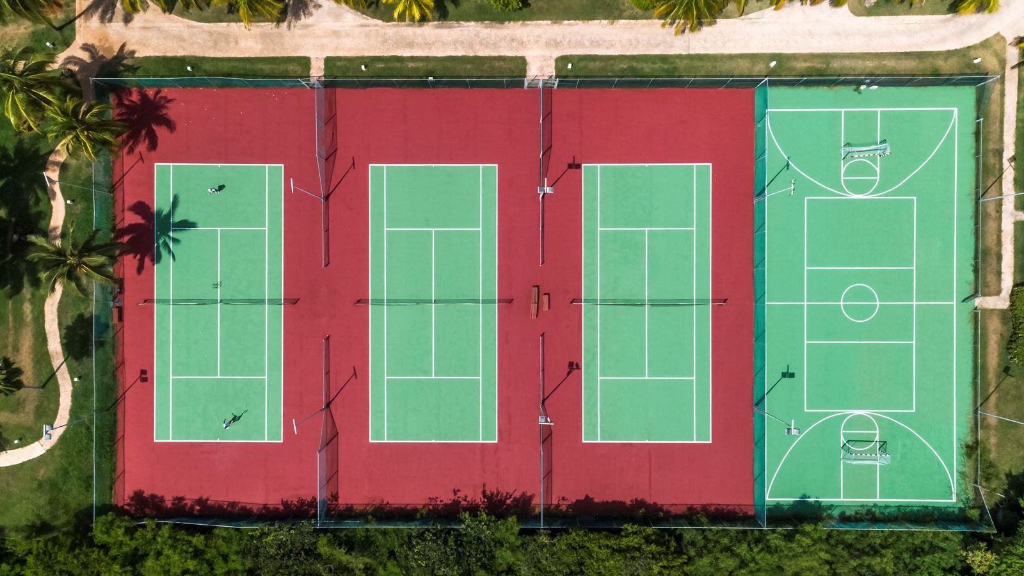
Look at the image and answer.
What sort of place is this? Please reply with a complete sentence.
The picture captures a sports ground.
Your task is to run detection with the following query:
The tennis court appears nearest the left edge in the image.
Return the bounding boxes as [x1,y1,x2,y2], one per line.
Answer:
[114,88,325,518]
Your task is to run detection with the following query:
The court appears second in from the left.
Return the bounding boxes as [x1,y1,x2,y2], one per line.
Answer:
[325,88,541,517]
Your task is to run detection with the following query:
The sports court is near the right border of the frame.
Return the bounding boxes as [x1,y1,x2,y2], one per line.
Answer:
[767,86,976,519]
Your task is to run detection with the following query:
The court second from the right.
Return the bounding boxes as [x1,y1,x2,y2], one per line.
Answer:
[541,88,755,518]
